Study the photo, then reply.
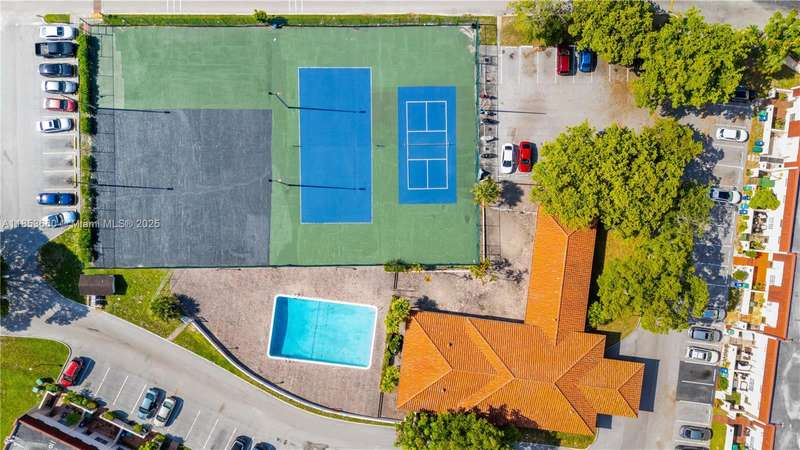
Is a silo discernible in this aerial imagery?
No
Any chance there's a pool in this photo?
Yes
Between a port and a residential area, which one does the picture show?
residential area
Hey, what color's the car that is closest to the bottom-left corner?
red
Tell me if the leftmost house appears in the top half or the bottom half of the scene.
bottom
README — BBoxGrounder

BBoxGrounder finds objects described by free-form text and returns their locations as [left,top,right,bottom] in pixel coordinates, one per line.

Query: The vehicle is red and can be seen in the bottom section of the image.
[59,355,85,387]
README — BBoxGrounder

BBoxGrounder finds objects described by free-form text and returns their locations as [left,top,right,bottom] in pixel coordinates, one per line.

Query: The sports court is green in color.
[89,26,477,264]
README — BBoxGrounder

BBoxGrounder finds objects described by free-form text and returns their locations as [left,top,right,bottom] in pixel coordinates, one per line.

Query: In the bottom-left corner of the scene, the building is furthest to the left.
[5,408,80,450]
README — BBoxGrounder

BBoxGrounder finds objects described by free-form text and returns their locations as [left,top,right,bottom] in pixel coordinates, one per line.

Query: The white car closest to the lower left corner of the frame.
[153,395,177,427]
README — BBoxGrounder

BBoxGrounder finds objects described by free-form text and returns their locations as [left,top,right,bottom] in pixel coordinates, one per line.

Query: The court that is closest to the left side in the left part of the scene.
[90,109,271,264]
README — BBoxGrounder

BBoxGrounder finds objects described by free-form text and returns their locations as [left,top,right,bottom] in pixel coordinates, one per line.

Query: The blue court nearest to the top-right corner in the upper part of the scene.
[398,86,456,204]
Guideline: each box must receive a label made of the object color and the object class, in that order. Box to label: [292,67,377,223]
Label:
blue tennis court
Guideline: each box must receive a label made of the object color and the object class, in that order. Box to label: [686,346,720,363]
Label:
white car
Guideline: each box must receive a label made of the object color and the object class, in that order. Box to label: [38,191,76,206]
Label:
blue car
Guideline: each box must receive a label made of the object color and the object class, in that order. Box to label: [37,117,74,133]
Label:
white car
